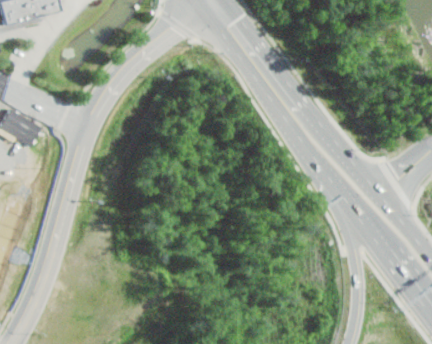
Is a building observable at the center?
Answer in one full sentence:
No, looking at the center, there is no building.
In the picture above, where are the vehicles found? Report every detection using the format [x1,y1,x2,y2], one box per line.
[383,205,391,214]
[312,163,320,172]
[14,48,26,56]
[421,254,429,262]
[376,184,385,194]
[12,144,20,156]
[34,104,43,111]
[354,206,362,215]
[344,149,352,158]
[405,165,414,173]
[400,266,410,277]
